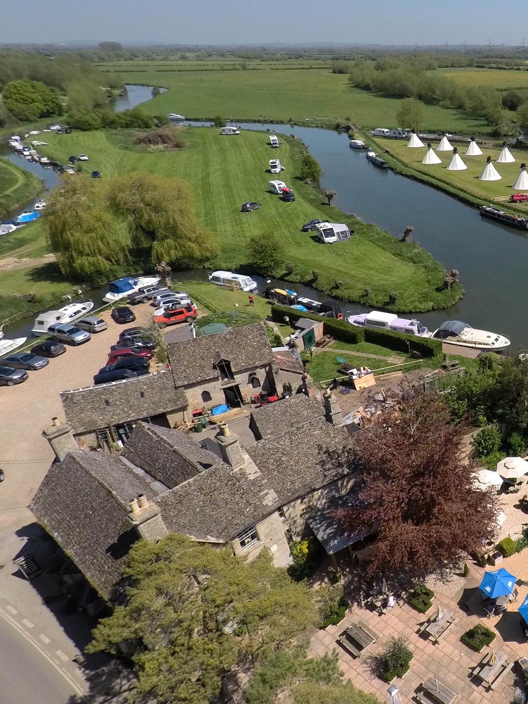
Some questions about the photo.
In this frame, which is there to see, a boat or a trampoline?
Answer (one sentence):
It is a boat that can be seen here.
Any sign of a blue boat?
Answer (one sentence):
Yes, a blue boat can be made out from above.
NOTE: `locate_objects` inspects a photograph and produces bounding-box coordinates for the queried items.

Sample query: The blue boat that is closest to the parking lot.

[102,274,159,302]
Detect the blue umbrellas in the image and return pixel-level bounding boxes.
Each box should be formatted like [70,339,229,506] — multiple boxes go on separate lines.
[517,594,528,628]
[478,570,517,603]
